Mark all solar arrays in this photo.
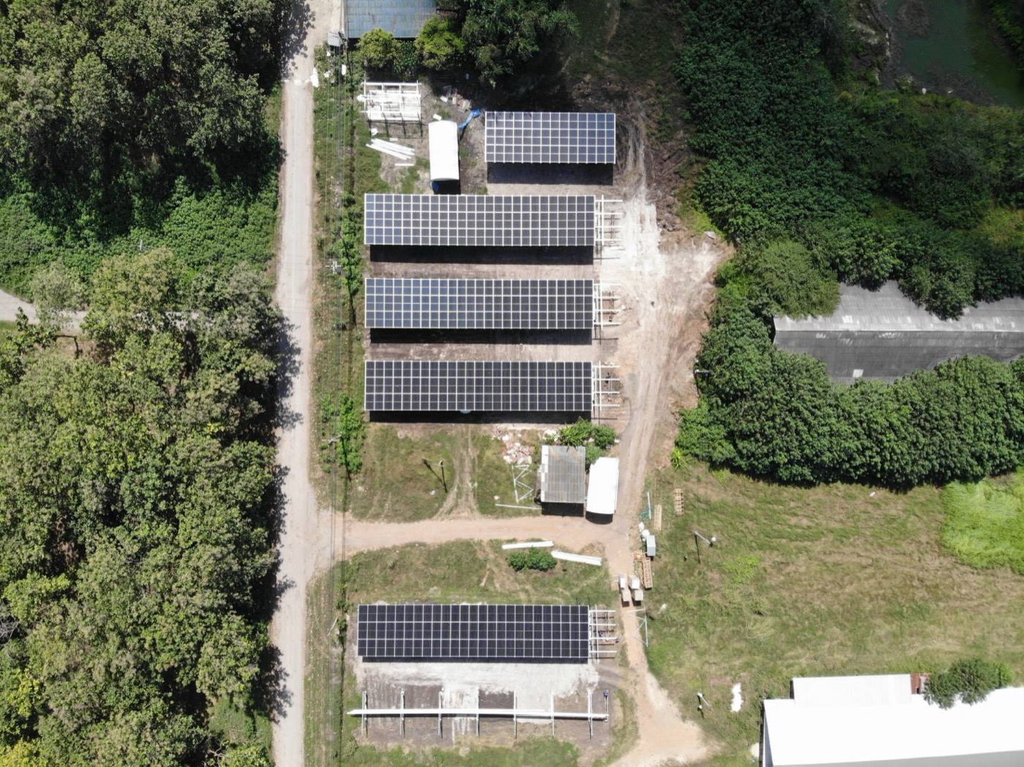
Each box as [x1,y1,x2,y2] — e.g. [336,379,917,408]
[357,604,618,657]
[363,194,623,246]
[485,112,615,164]
[364,279,621,329]
[364,361,620,411]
